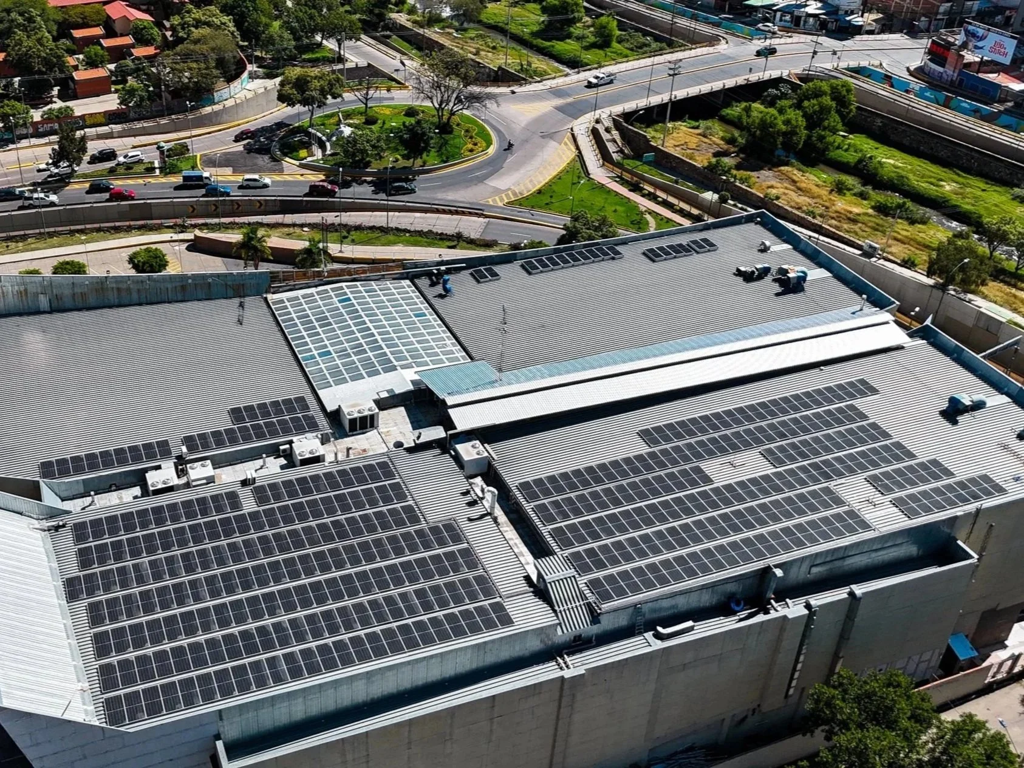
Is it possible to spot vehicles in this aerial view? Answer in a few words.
Yes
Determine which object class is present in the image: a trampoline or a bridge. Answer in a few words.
bridge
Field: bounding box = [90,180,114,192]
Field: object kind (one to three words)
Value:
vehicle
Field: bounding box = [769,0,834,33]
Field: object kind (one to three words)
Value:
building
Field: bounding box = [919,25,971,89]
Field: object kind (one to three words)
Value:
building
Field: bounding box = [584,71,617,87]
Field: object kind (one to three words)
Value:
vehicle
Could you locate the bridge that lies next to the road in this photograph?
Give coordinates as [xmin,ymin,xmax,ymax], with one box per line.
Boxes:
[529,36,783,128]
